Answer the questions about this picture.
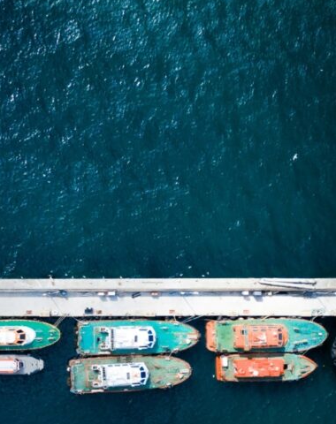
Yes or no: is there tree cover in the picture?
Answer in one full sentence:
No, there's no tree cover in this view.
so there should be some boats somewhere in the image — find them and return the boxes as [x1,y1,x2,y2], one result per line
[75,318,201,355]
[205,317,328,352]
[66,354,193,394]
[214,352,318,382]
[0,352,44,378]
[0,318,61,352]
